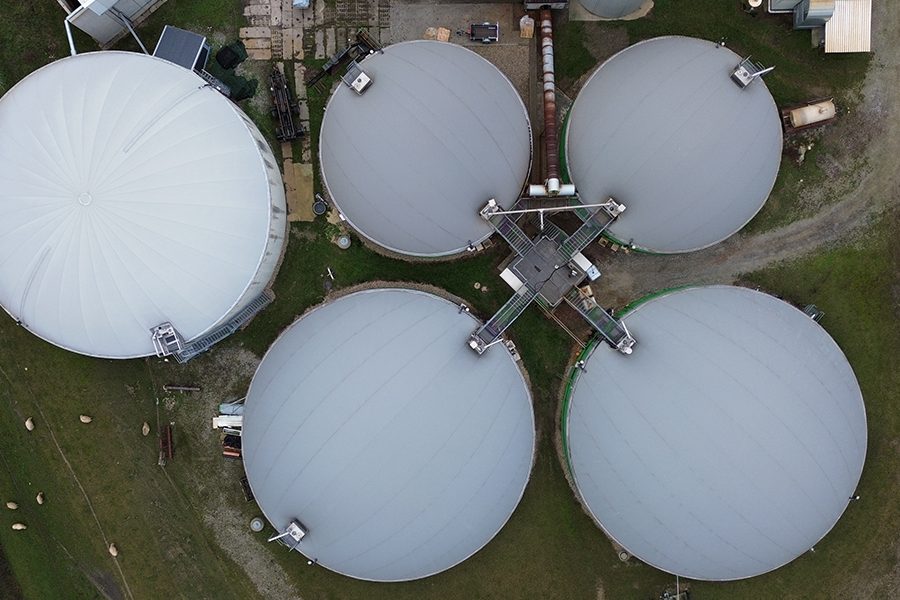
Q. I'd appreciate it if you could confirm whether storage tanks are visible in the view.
Yes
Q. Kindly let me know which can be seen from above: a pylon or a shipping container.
shipping container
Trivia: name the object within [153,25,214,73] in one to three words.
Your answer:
shed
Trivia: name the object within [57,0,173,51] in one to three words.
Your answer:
building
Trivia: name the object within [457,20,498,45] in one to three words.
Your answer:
trailer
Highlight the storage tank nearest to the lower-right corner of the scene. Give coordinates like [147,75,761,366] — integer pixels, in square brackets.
[560,282,868,584]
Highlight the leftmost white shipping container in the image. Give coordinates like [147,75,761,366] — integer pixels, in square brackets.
[497,267,525,293]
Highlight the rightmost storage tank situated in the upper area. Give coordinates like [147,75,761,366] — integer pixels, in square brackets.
[778,98,837,135]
